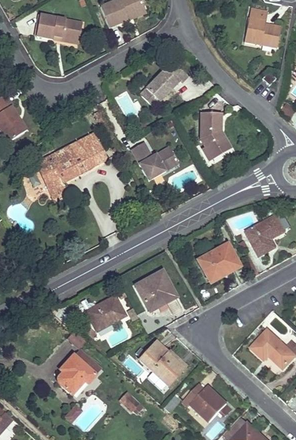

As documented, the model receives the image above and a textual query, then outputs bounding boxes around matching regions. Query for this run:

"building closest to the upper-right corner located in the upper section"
[244,7,282,50]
